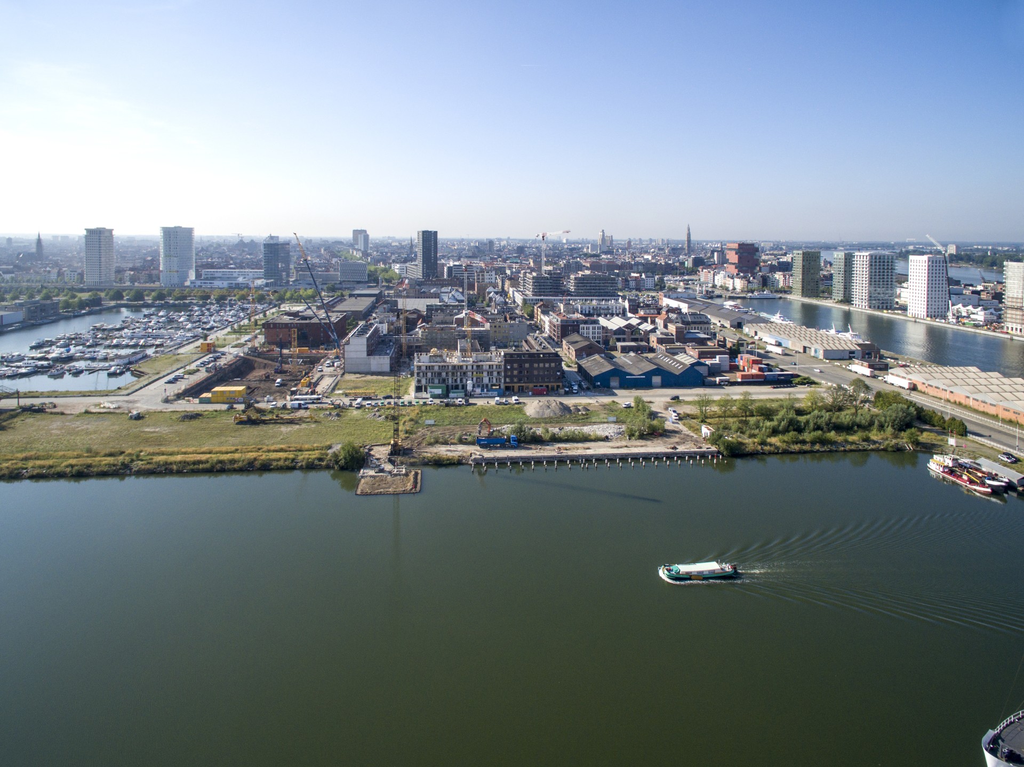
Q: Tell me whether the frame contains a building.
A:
Yes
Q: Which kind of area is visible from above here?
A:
port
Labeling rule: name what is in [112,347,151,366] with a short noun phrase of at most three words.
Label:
boat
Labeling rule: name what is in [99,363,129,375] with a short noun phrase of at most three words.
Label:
boat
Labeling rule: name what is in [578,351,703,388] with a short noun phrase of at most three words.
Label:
building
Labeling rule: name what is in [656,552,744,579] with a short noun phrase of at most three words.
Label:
vessel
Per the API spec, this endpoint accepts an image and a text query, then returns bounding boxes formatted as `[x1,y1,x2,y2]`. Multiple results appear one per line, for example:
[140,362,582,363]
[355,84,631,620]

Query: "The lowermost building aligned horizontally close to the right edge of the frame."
[879,368,1024,428]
